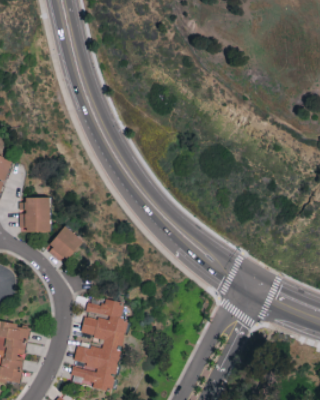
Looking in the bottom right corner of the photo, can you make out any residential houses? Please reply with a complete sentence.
No, the scene shows no residential house in the bottom right corner of the photo.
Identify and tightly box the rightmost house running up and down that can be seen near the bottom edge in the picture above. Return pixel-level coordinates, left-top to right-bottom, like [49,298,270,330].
[70,300,128,392]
